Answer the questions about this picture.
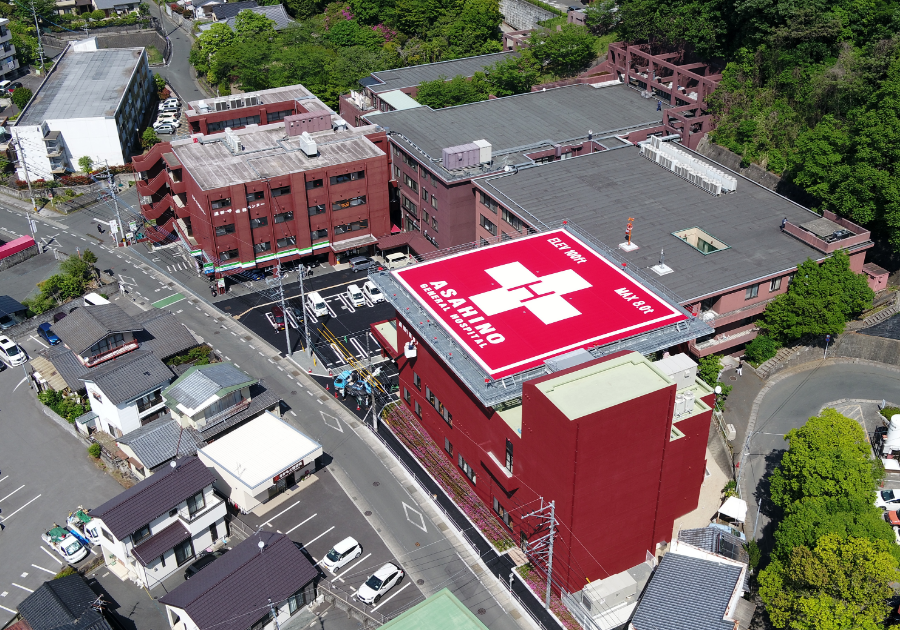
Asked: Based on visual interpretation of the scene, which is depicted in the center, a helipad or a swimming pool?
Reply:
helipad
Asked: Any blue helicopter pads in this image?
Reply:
No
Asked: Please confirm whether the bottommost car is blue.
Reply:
No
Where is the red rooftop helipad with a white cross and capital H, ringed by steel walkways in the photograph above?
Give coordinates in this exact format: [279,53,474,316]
[364,213,722,424]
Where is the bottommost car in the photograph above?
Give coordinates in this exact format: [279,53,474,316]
[359,562,404,603]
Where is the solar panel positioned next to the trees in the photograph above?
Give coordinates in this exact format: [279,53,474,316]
[717,532,739,554]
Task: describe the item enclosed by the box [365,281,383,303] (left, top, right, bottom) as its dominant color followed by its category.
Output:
white car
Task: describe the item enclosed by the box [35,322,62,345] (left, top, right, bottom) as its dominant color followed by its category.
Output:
blue car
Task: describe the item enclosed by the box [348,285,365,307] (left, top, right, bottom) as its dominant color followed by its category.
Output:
white car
